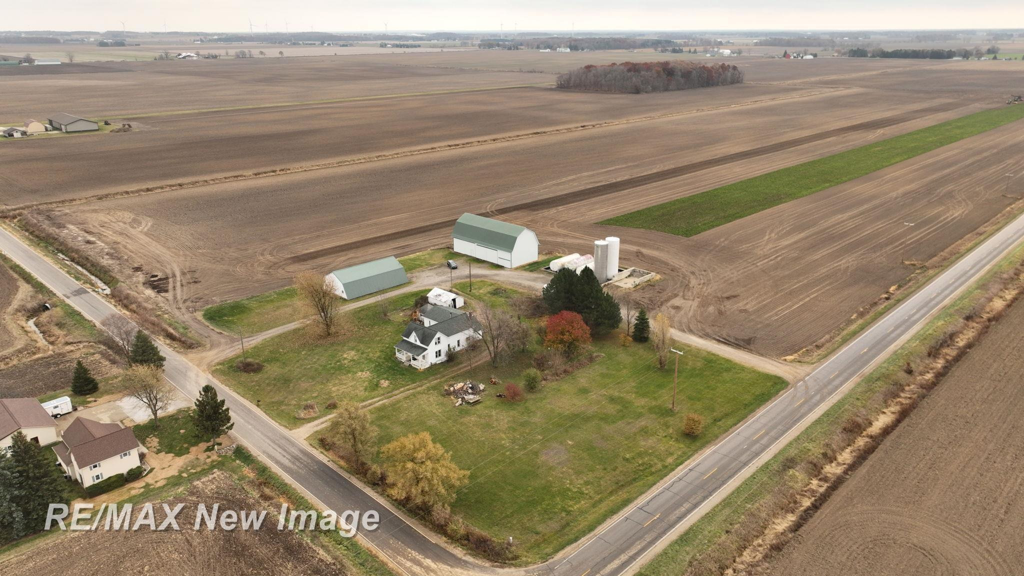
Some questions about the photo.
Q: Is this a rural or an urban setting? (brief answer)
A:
rural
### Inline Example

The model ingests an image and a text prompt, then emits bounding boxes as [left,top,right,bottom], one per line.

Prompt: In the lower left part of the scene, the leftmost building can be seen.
[0,397,59,460]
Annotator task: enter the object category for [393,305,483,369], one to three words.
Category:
house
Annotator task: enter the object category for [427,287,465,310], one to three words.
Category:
shed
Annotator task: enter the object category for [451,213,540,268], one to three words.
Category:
barn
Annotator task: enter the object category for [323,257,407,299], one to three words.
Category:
shed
